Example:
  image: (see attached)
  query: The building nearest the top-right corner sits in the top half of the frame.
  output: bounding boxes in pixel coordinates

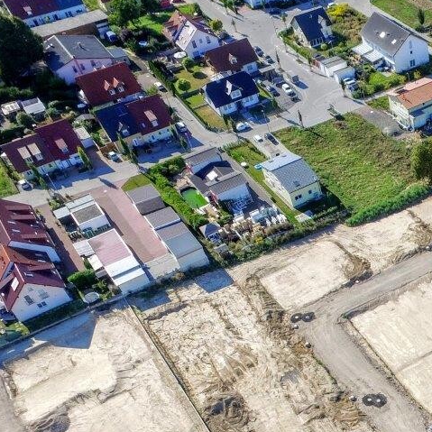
[361,12,427,72]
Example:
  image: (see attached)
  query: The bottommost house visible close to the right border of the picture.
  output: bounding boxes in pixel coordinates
[387,78,432,130]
